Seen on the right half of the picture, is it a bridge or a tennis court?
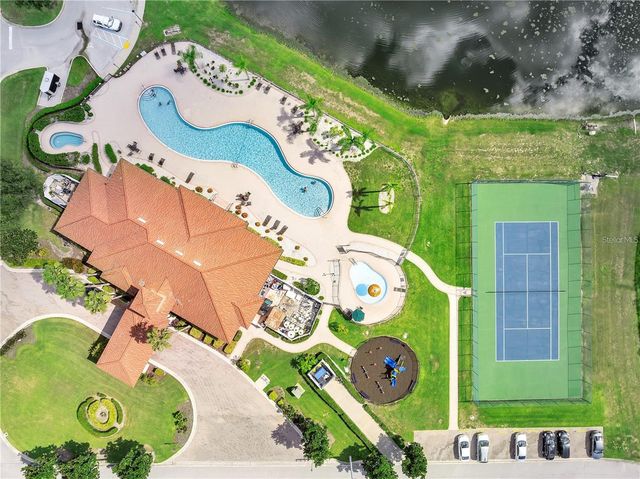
tennis court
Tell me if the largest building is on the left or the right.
left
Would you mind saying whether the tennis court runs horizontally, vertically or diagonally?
vertically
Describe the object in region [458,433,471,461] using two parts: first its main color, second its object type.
white vehicle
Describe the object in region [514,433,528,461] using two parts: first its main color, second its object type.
white car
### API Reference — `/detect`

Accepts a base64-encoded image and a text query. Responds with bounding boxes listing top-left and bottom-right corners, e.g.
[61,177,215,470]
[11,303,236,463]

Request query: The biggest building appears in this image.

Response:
[52,158,282,387]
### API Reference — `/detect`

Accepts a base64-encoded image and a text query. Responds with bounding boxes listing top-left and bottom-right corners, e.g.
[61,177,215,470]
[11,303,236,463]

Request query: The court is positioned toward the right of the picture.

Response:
[472,181,580,401]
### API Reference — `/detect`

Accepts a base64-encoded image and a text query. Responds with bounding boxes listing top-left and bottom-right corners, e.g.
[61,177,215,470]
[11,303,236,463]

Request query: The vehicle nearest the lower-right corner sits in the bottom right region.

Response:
[589,430,605,458]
